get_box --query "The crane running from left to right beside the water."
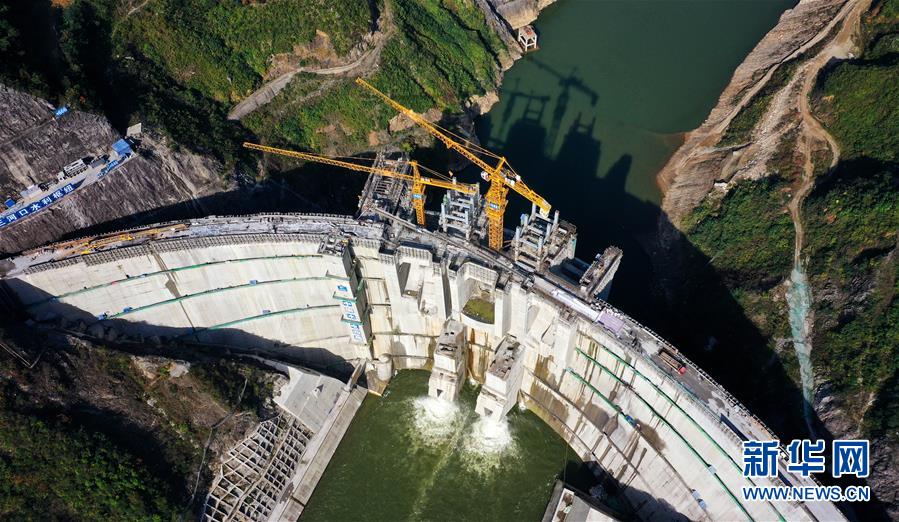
[242,145,478,229]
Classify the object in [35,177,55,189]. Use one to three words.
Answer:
vehicle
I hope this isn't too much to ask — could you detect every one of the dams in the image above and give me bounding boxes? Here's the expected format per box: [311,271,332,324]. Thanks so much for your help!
[0,209,859,522]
